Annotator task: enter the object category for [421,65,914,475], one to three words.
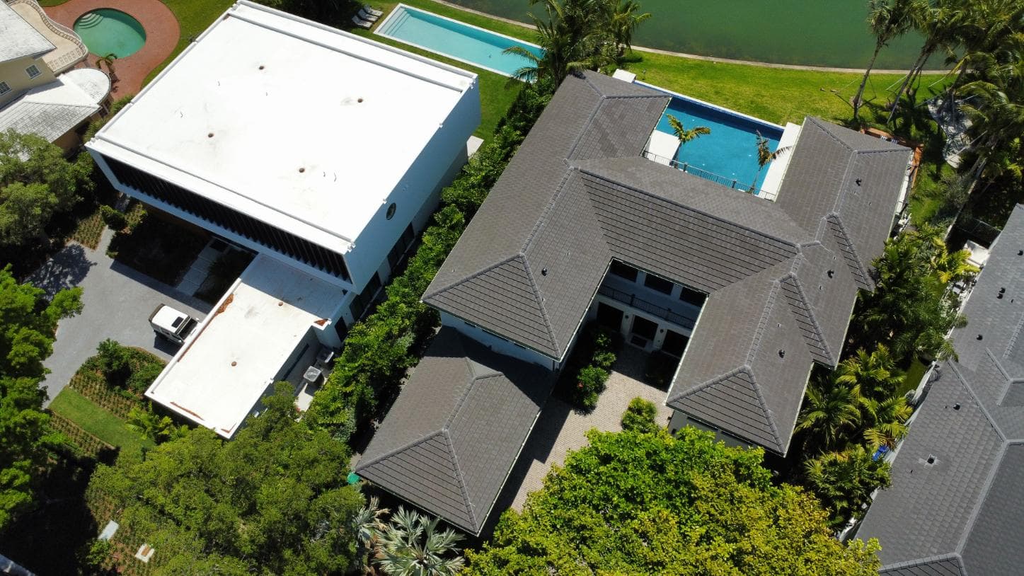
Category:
house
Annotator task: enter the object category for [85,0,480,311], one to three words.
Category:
house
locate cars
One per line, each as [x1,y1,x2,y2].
[150,305,201,346]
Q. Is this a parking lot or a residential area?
residential area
